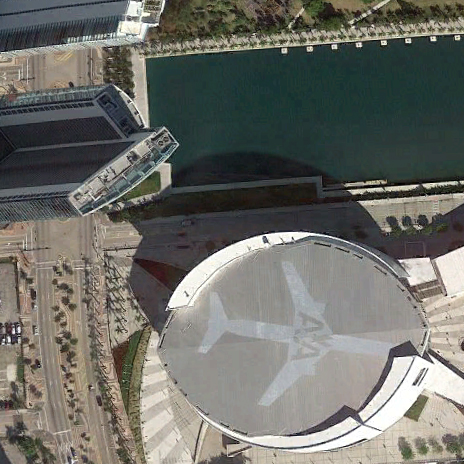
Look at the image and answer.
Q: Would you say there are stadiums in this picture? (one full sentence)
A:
Yes, a stadium is visible in the scene.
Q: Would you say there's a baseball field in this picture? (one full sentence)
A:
No, the picture doesn't show any baseball field.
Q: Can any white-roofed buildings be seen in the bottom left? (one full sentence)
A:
No, there is no white-roofed building in the bottom left.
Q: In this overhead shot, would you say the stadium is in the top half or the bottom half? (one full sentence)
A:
The stadium sits in the bottom half of the picture.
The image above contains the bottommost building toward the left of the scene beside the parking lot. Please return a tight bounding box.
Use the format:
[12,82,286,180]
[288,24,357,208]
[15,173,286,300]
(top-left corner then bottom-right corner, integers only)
[0,85,178,228]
